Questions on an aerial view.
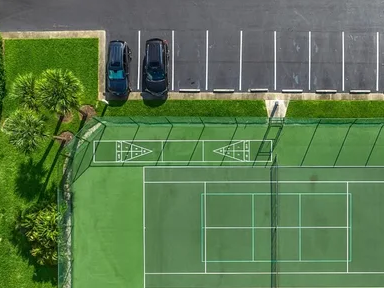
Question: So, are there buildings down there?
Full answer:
No, no building is visible in the scene.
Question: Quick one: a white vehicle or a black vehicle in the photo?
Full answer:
Of the two, only a black vehicle appears.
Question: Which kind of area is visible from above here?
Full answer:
This image shows a sports ground.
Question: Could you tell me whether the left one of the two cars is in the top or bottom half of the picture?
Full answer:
The left one of the two cars is in the top half of the image.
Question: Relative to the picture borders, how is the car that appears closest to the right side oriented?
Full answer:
In this picture, the car that appears closest to the right side is oriented vertically.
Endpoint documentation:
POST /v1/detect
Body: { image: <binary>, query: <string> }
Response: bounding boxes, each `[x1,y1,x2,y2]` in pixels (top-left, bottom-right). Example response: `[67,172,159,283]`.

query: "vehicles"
[105,42,132,96]
[141,40,169,99]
